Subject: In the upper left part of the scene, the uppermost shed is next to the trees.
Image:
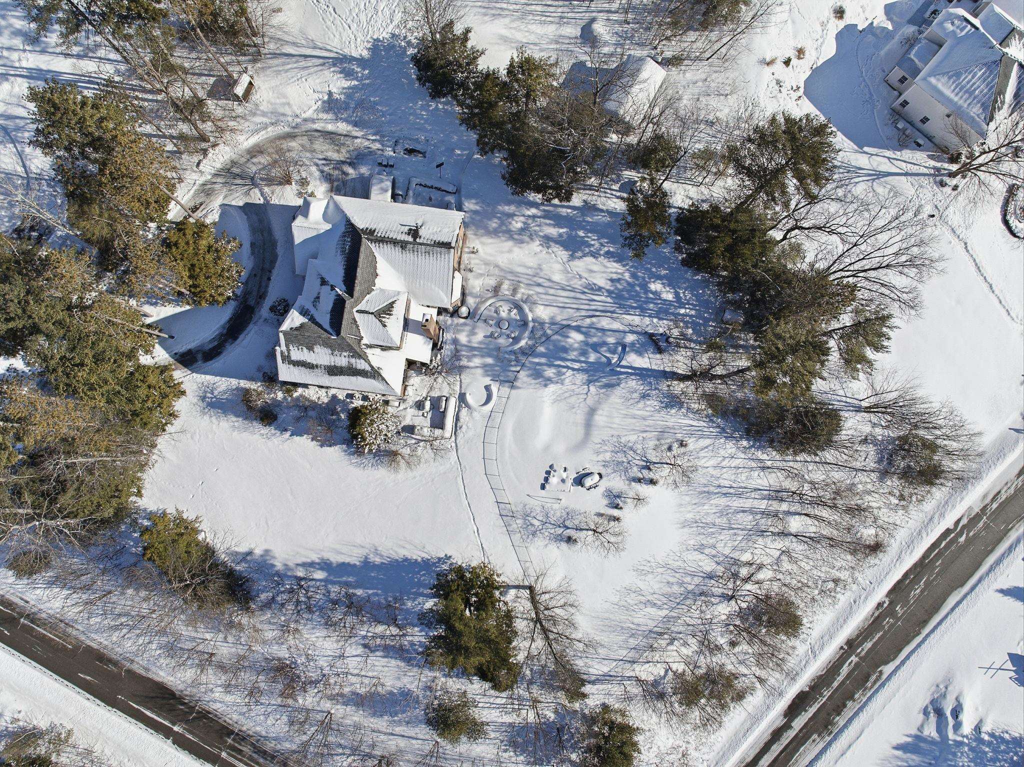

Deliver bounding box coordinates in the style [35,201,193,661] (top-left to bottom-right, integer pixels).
[233,74,258,105]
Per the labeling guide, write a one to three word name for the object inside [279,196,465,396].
house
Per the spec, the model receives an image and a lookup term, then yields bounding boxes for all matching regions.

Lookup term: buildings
[233,74,258,105]
[279,196,465,396]
[885,0,1024,152]
[601,55,667,136]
